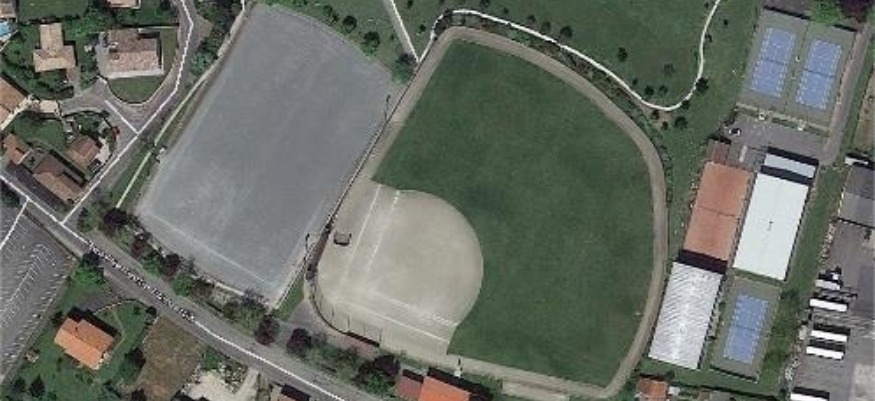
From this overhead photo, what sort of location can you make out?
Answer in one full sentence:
It's a sports ground.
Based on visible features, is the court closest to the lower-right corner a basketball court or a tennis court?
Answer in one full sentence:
I'd identify the court closest to the lower-right corner as a tennis court.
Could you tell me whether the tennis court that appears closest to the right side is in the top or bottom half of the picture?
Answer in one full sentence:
It is in the top half that the tennis court that appears closest to the right side appears.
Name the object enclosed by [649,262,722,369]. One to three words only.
building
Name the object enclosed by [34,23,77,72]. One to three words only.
house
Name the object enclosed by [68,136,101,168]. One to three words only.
house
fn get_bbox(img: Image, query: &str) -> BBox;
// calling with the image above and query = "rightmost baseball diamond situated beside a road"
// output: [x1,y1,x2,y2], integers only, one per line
[308,25,668,399]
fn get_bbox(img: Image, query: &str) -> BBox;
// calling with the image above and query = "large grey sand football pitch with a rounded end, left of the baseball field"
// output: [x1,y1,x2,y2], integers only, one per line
[132,4,405,309]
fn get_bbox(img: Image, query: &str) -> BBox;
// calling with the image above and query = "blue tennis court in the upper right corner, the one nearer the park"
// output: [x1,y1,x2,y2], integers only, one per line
[735,6,809,118]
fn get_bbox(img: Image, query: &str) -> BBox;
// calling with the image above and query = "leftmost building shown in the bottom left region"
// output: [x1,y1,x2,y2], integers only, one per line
[53,317,115,369]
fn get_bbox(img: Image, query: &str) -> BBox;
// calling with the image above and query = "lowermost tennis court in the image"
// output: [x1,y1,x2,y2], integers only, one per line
[712,275,781,380]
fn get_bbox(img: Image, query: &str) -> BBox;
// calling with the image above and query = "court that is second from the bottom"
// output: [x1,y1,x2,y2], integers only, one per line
[681,159,755,274]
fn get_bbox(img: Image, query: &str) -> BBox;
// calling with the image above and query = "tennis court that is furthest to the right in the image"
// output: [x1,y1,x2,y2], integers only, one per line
[785,20,857,133]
